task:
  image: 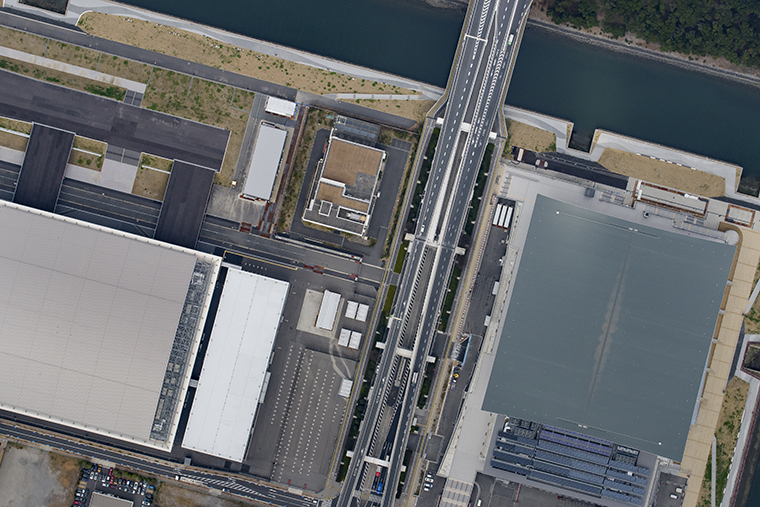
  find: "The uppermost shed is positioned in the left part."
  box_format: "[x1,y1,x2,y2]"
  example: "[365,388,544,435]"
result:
[265,97,296,117]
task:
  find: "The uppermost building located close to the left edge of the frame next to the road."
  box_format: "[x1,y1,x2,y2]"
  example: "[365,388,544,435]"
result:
[0,201,221,451]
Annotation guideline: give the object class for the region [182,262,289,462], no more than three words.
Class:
building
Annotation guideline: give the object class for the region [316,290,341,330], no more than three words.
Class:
shed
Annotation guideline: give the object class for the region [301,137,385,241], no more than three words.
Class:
building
